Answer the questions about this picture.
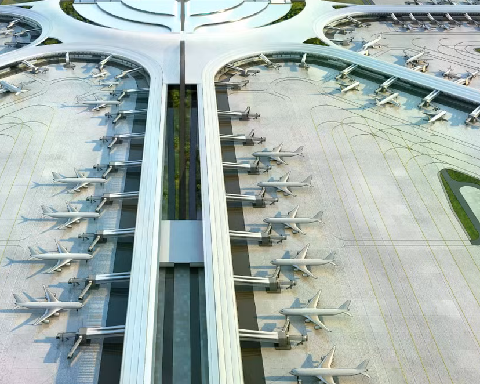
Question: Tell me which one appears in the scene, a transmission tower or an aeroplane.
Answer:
aeroplane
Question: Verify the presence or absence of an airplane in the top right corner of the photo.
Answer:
Yes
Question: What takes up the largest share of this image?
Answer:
paved ground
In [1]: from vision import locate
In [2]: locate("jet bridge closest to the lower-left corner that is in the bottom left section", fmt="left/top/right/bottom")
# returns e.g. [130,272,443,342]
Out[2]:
[54,327,127,362]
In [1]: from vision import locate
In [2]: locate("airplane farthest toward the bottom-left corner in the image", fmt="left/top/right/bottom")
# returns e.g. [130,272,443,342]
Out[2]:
[11,280,84,326]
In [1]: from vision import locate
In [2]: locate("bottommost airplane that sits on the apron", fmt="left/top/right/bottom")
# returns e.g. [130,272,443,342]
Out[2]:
[290,340,374,384]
